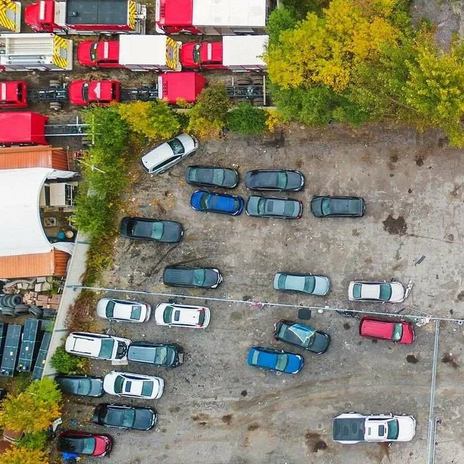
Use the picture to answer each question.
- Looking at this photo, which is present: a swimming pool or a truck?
truck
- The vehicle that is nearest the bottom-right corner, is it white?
Yes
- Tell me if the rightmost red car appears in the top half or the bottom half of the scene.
bottom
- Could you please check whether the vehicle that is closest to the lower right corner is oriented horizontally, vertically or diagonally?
horizontally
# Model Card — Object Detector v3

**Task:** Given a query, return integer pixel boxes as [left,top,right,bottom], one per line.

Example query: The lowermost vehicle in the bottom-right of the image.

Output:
[329,413,416,444]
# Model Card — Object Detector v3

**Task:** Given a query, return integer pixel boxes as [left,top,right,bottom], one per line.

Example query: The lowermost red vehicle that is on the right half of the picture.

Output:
[358,316,417,346]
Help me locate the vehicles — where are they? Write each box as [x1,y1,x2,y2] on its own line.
[245,345,306,377]
[92,404,159,432]
[0,114,104,149]
[124,341,187,368]
[347,279,406,305]
[329,413,416,444]
[103,372,166,399]
[244,165,305,193]
[25,0,152,39]
[271,318,334,355]
[273,270,331,297]
[358,316,417,346]
[158,0,277,40]
[154,301,213,328]
[54,432,115,458]
[96,297,153,323]
[60,332,130,368]
[185,164,240,189]
[0,81,68,116]
[160,262,224,291]
[51,375,104,399]
[310,191,366,219]
[70,76,159,109]
[79,35,186,75]
[182,35,277,78]
[245,191,304,221]
[189,188,246,217]
[0,34,76,75]
[118,216,185,245]
[136,133,200,176]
